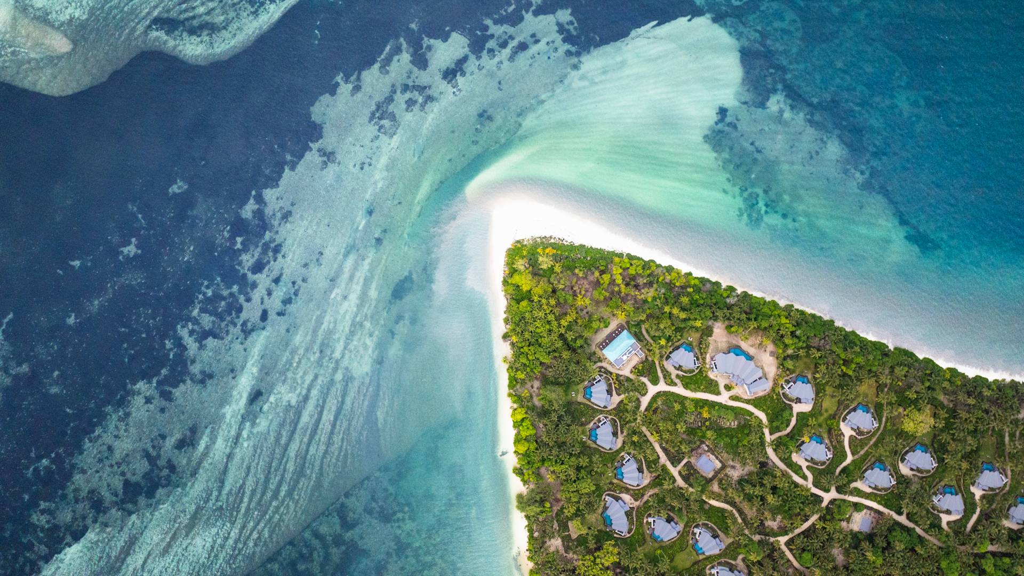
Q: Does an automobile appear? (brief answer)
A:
No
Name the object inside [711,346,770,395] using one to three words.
building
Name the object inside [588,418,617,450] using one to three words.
house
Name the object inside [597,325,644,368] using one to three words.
building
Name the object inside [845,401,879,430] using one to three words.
house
